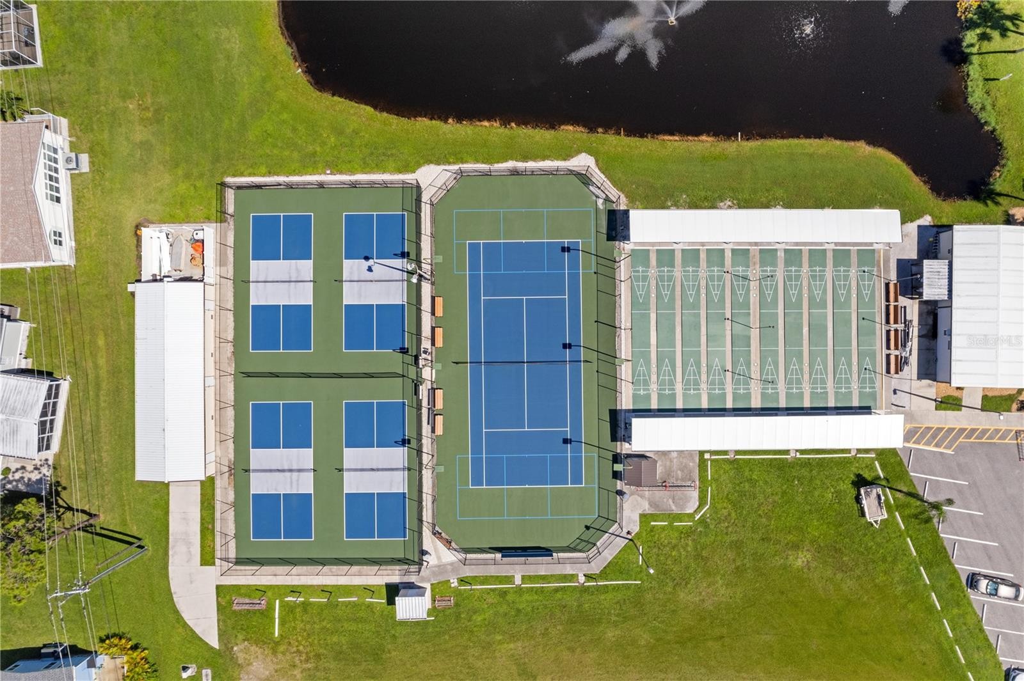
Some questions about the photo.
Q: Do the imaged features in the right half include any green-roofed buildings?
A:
No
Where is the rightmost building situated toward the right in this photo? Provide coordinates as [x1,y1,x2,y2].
[937,224,1024,387]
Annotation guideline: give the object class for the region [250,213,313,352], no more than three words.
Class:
sports court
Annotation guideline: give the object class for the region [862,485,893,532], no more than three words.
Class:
trailer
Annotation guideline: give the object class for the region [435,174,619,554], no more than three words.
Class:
tennis court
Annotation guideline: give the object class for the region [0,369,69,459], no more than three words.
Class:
house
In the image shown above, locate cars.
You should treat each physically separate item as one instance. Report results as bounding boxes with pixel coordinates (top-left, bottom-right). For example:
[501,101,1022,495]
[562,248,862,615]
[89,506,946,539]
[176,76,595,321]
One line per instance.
[971,572,1024,600]
[1009,666,1024,681]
